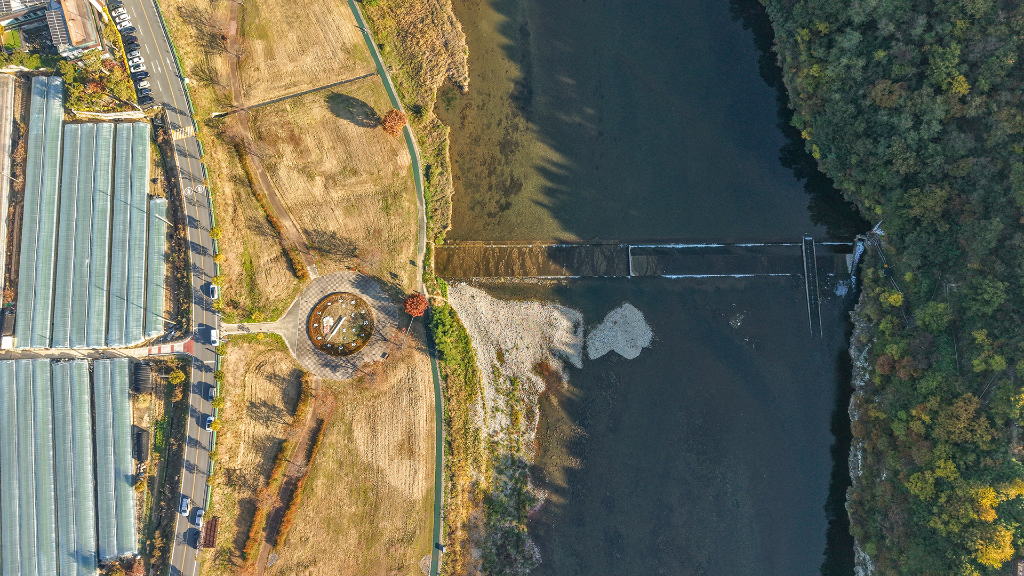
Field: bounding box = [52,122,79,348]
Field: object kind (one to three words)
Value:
greenhouse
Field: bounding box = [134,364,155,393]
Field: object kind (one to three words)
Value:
shed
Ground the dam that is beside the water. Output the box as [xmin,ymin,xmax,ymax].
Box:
[435,239,855,279]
